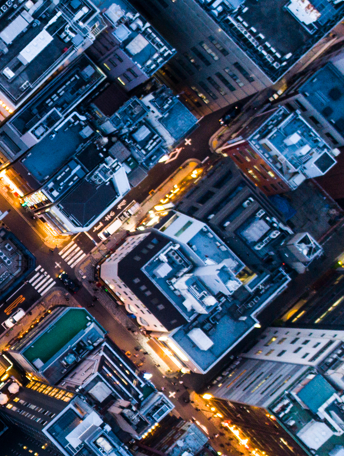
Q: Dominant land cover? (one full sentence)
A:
Most of the picture is covered by buildings.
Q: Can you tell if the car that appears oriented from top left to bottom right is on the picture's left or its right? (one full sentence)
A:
The car that appears oriented from top left to bottom right sits on the left side.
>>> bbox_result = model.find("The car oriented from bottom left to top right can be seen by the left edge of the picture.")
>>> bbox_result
[5,309,25,328]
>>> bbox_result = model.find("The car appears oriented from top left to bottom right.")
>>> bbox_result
[58,272,80,293]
